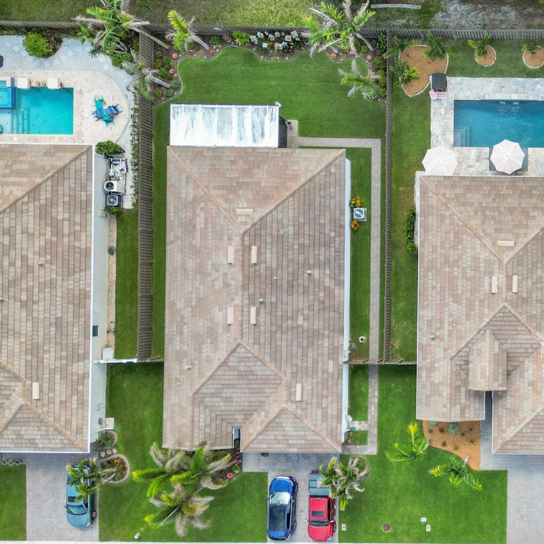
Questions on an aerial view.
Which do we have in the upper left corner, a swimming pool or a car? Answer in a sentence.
What appears in the upper left corner is a swimming pool.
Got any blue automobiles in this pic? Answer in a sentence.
Yes, there's a blue automobile here.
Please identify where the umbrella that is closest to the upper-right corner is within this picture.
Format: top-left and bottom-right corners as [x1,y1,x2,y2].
[490,140,526,175]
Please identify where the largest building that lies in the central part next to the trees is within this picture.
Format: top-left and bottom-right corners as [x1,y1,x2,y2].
[163,145,353,454]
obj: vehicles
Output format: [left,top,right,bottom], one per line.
[61,460,102,528]
[303,466,338,542]
[263,474,301,541]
